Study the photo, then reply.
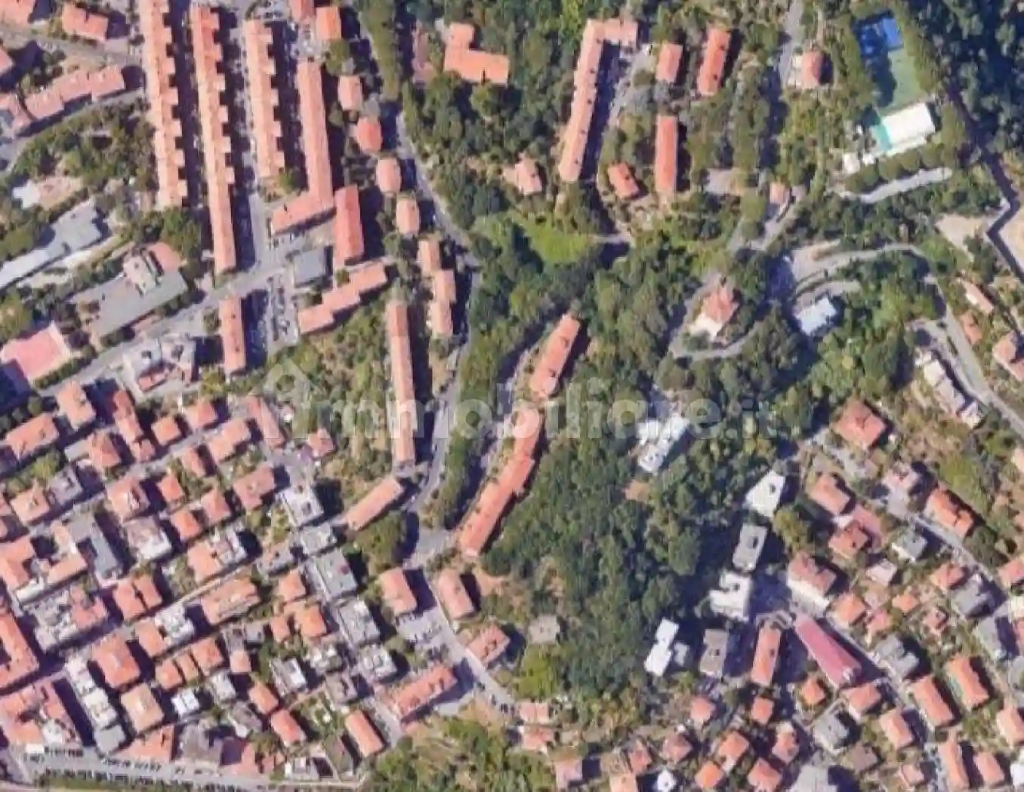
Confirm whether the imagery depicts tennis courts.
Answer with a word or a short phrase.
Yes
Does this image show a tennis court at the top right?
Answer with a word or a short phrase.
Yes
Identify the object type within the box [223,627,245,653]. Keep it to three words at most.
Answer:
building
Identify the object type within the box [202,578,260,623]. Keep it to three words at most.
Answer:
building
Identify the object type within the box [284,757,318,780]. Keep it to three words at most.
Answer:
shed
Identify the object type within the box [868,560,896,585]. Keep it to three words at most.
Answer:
house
